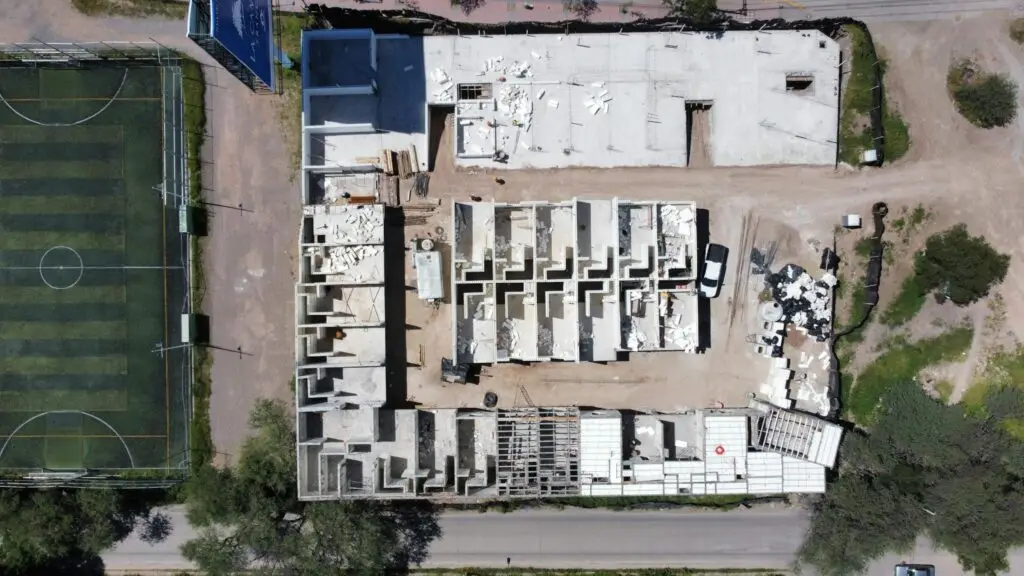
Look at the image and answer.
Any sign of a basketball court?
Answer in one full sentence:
No, I can see no basketball court in this picture.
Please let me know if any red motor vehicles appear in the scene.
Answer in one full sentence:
No, there appears to be no red motor vehicle in this shot.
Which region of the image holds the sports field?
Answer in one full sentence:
The sports field sits in the left section of the image.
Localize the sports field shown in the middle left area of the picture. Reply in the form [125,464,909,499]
[0,66,188,469]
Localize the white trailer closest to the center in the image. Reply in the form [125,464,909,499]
[413,251,444,312]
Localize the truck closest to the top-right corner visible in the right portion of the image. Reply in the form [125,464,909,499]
[698,241,731,300]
